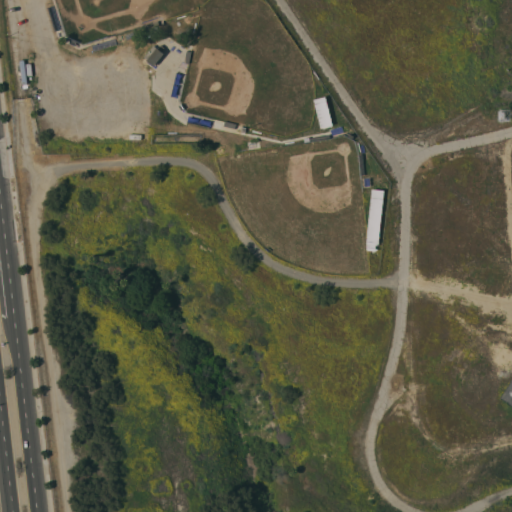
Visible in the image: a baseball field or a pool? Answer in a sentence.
I can see a baseball field in this picture.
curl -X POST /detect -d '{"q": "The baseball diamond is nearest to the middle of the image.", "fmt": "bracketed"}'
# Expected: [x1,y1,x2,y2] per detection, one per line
[217,134,370,274]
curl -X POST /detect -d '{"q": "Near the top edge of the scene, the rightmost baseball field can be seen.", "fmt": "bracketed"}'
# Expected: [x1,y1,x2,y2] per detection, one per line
[184,0,315,139]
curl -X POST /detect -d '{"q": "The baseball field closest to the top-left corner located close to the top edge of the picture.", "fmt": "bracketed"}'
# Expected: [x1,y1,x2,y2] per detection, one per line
[56,0,203,46]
